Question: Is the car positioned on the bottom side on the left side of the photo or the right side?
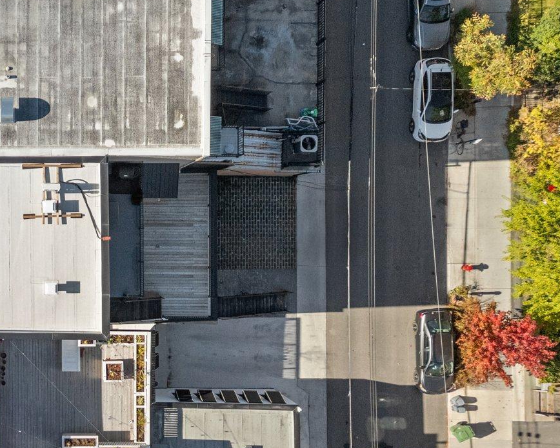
right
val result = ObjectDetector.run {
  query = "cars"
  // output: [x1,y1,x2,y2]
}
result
[409,0,457,50]
[410,60,457,142]
[413,309,458,393]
